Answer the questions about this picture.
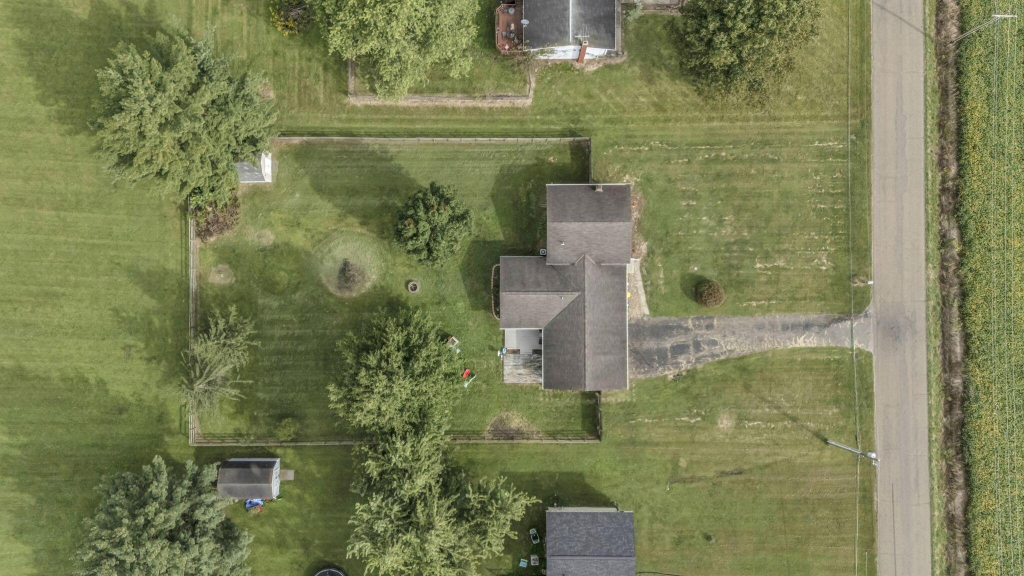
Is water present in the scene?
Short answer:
No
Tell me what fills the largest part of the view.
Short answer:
grass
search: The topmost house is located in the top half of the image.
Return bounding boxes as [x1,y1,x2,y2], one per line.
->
[523,0,616,64]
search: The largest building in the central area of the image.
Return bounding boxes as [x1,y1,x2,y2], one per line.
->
[500,182,640,391]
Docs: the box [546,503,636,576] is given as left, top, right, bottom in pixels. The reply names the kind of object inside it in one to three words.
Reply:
house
